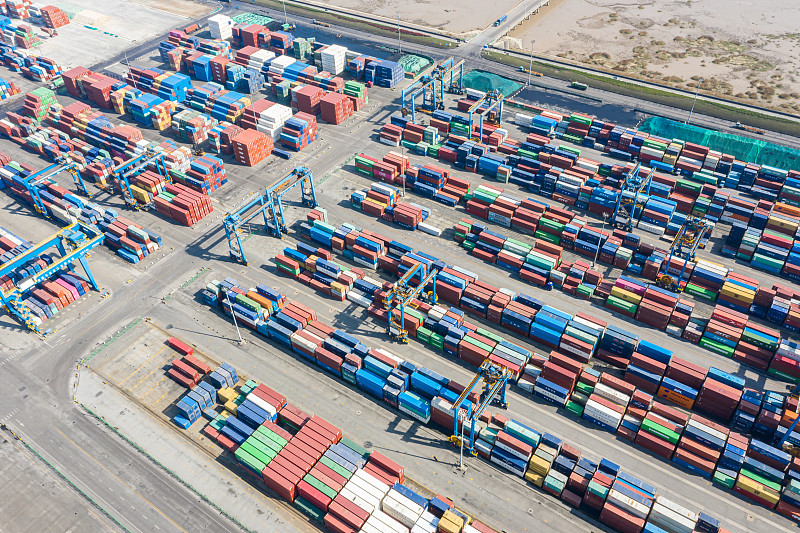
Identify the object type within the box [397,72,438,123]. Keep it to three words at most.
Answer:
container crane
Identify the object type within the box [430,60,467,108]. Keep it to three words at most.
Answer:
container crane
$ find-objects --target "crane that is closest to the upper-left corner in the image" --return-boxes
[20,153,91,217]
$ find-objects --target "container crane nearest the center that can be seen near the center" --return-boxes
[382,260,445,345]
